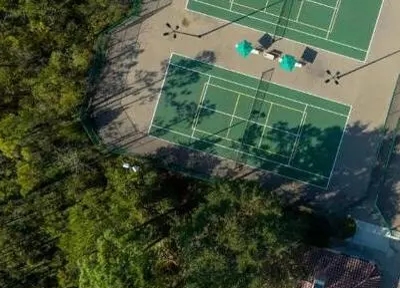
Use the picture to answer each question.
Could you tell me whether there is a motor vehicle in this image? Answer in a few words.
No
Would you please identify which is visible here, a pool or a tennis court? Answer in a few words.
tennis court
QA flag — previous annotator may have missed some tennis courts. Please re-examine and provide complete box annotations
[149,54,350,188]
[186,0,382,61]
